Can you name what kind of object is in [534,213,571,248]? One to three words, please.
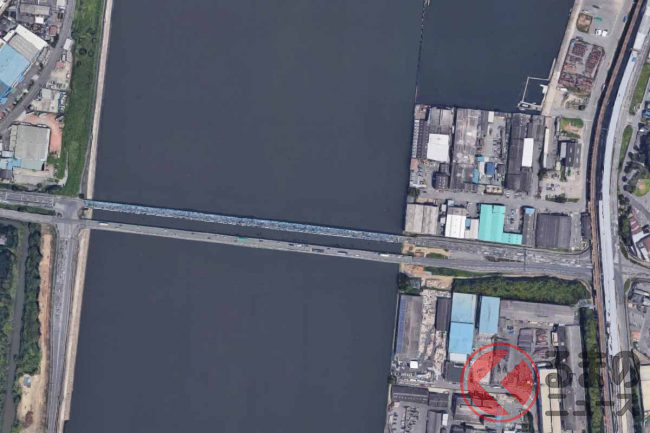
building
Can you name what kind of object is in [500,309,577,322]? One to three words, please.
shed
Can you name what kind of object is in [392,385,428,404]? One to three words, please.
building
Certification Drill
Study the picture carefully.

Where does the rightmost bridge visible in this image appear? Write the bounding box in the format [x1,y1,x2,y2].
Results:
[600,0,650,433]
